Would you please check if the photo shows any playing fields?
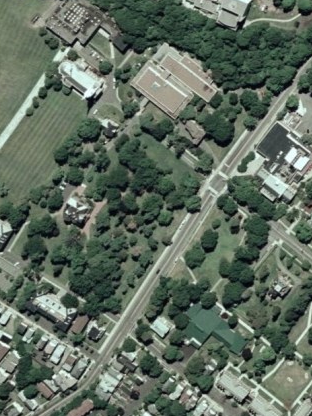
Yes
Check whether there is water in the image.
No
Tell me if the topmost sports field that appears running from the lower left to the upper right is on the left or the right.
left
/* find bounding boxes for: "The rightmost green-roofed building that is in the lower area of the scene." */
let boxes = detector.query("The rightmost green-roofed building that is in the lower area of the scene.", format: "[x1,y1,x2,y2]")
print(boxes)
[183,304,248,355]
